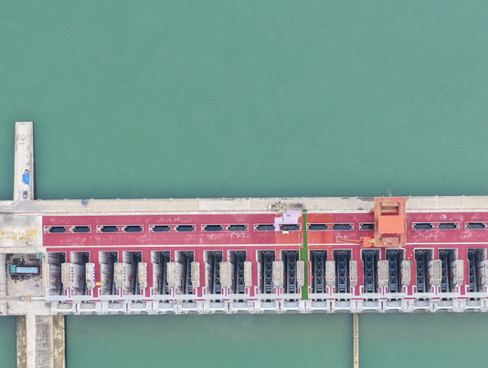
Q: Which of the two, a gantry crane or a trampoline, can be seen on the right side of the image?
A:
gantry crane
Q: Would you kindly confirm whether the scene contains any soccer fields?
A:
No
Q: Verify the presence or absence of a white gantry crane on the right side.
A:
No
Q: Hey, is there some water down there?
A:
Yes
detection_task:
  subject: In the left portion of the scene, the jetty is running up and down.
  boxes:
[14,122,36,202]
